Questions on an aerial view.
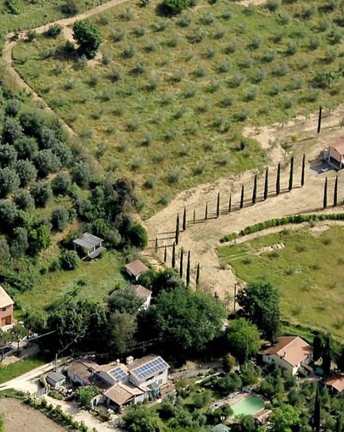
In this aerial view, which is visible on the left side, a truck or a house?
house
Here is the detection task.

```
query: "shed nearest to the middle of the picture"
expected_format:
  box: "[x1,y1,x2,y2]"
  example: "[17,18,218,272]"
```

[122,258,149,281]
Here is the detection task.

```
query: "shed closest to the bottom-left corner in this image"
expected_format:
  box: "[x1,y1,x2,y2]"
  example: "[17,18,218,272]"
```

[43,365,67,386]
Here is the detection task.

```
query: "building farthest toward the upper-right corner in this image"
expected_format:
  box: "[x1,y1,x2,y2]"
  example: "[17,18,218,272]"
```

[322,135,344,170]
